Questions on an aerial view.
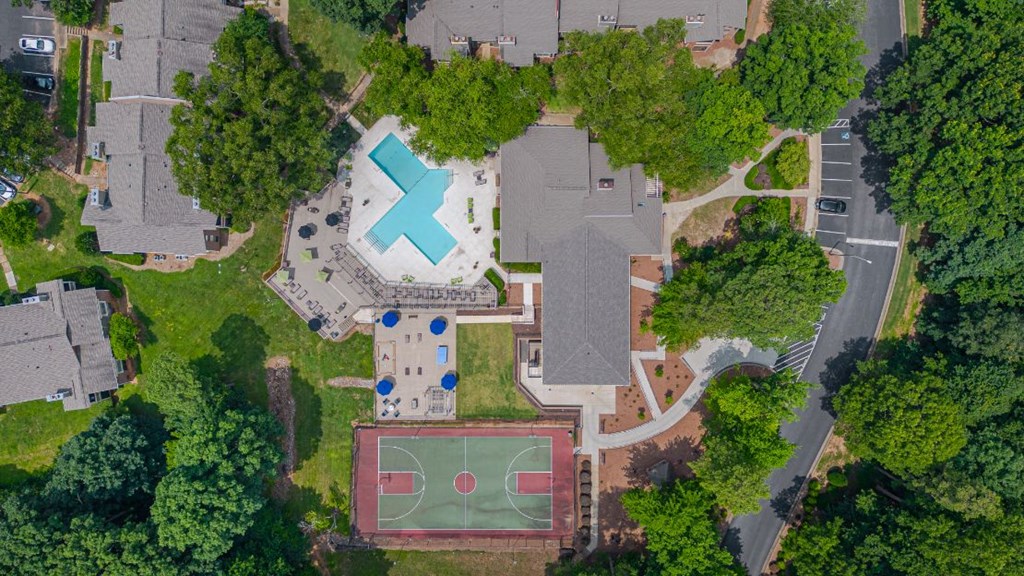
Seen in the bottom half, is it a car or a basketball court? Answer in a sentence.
The one visible in the bottom half is a basketball court.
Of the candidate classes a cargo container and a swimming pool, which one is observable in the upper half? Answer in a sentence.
Looking in the upper half, you will find a swimming pool.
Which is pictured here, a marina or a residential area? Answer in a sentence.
This looks like a residential area.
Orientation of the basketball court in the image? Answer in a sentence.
In this picture, the basketball court is oriented from left to right.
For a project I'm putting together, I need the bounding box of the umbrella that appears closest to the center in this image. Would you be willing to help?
[430,318,446,334]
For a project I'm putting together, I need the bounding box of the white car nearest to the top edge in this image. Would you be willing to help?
[20,37,57,54]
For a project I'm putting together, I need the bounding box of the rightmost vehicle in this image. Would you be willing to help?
[814,197,846,212]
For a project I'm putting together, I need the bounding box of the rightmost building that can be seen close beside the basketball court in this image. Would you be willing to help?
[501,126,663,386]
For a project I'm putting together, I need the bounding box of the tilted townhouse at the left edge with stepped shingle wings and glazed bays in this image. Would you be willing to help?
[0,279,132,411]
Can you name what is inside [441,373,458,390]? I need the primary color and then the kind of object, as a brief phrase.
blue umbrella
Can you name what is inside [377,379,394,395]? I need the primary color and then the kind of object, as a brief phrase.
blue umbrella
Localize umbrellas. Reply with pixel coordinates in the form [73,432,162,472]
[315,269,328,282]
[441,373,458,390]
[377,379,394,395]
[326,212,340,226]
[381,310,399,327]
[278,270,290,281]
[308,318,322,331]
[300,250,312,262]
[430,318,446,334]
[299,225,312,239]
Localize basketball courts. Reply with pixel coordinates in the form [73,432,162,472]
[357,426,575,538]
